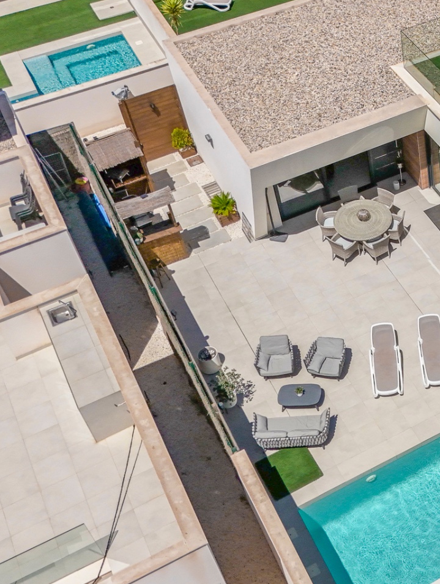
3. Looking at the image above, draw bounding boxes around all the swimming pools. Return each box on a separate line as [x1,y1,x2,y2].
[12,34,139,102]
[299,436,440,584]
